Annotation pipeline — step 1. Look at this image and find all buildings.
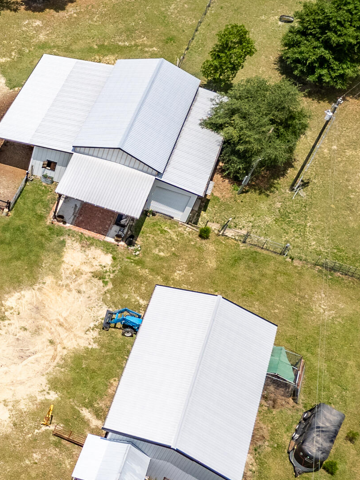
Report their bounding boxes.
[0,55,224,245]
[101,284,278,480]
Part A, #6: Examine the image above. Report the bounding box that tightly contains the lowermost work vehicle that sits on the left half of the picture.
[98,313,143,342]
